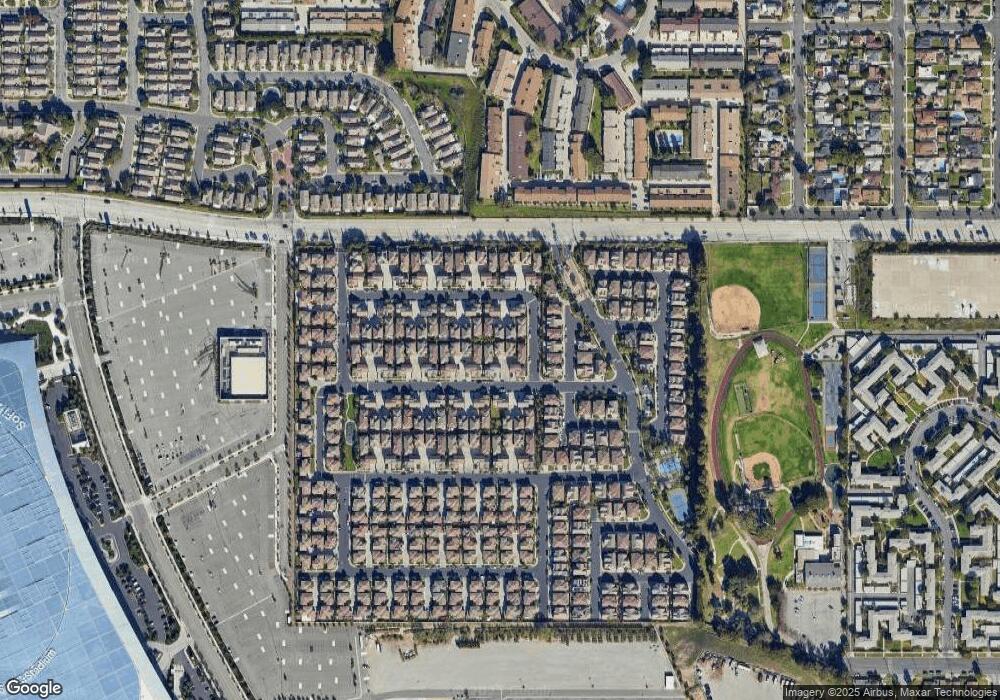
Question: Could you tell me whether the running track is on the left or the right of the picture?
right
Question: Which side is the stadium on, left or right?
left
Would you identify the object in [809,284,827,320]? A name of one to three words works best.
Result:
tennis court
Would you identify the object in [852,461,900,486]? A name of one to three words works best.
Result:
building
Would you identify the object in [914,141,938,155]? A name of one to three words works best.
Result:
house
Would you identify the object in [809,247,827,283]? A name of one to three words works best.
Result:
tennis court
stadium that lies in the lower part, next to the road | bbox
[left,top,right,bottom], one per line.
[0,337,175,700]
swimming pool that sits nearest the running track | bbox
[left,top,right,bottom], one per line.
[657,455,683,476]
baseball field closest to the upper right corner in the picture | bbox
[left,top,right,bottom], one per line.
[705,243,807,339]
